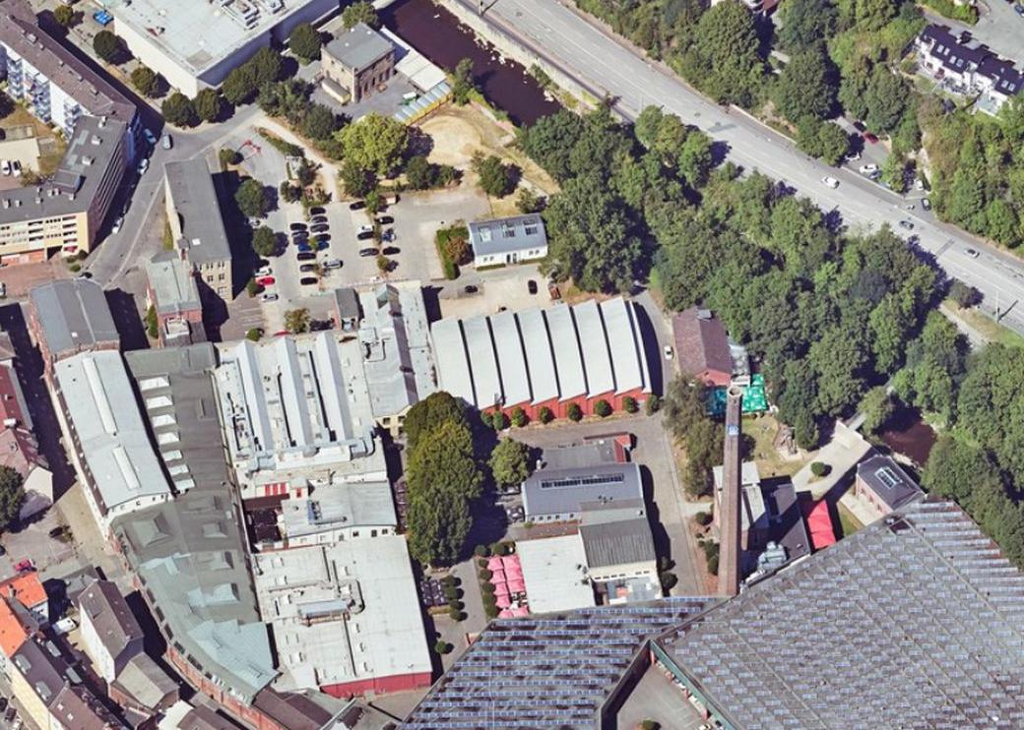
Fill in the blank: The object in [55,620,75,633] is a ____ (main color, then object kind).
white vehicle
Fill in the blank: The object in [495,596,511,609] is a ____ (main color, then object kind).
pink umbrella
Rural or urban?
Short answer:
urban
